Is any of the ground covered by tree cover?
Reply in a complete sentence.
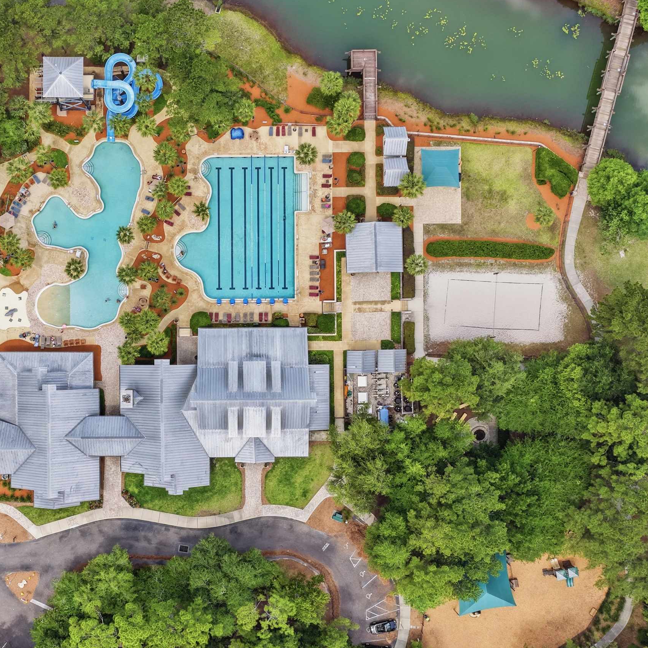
Yes, there is tree cover in the image.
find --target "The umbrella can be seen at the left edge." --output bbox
[0,210,17,232]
